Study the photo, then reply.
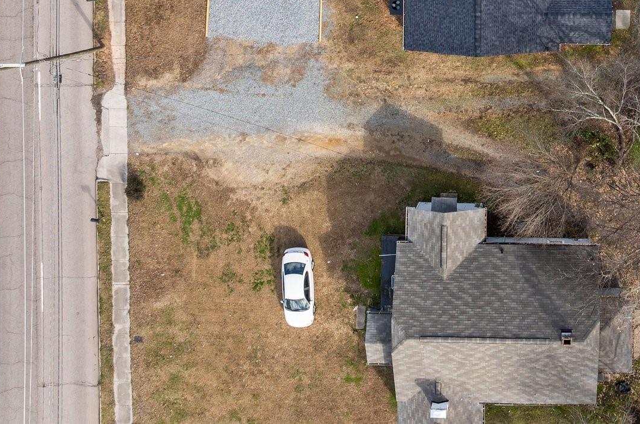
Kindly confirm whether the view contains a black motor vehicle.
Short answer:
No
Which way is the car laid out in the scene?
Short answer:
from top to bottom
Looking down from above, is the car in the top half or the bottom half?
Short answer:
bottom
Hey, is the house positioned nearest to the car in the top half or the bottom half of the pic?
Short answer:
bottom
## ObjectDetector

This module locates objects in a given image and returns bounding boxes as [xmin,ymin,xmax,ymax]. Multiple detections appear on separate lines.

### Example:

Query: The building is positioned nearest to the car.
[364,197,635,424]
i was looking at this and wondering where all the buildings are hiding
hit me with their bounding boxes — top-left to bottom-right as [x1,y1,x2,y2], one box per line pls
[364,197,635,424]
[402,0,614,56]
